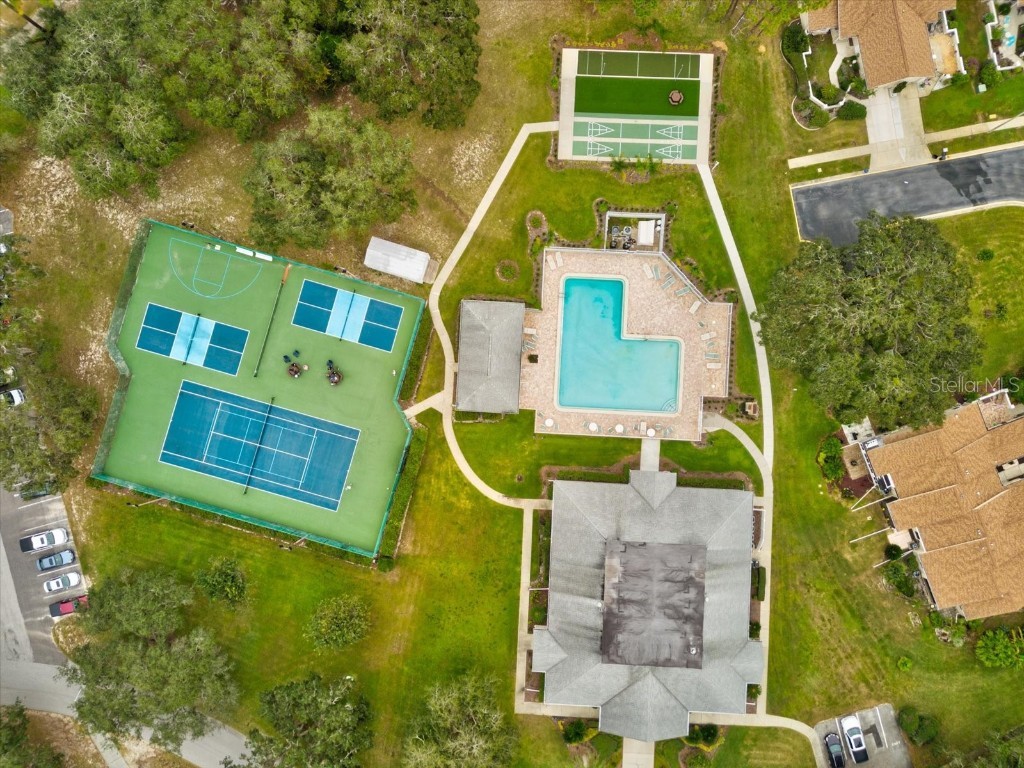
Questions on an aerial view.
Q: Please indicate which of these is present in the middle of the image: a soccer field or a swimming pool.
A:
swimming pool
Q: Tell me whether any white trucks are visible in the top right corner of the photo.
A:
No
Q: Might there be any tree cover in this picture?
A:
Yes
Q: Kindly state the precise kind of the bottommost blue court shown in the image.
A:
tennis court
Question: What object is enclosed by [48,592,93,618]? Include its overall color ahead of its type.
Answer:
red truck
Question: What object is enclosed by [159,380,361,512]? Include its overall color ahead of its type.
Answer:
blue tennis court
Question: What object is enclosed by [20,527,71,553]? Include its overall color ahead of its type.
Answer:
white truck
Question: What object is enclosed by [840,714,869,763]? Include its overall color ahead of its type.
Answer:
white truck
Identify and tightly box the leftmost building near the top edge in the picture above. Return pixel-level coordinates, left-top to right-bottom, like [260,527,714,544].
[799,0,956,94]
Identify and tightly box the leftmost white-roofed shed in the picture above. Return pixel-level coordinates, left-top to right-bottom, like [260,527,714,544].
[363,235,429,285]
